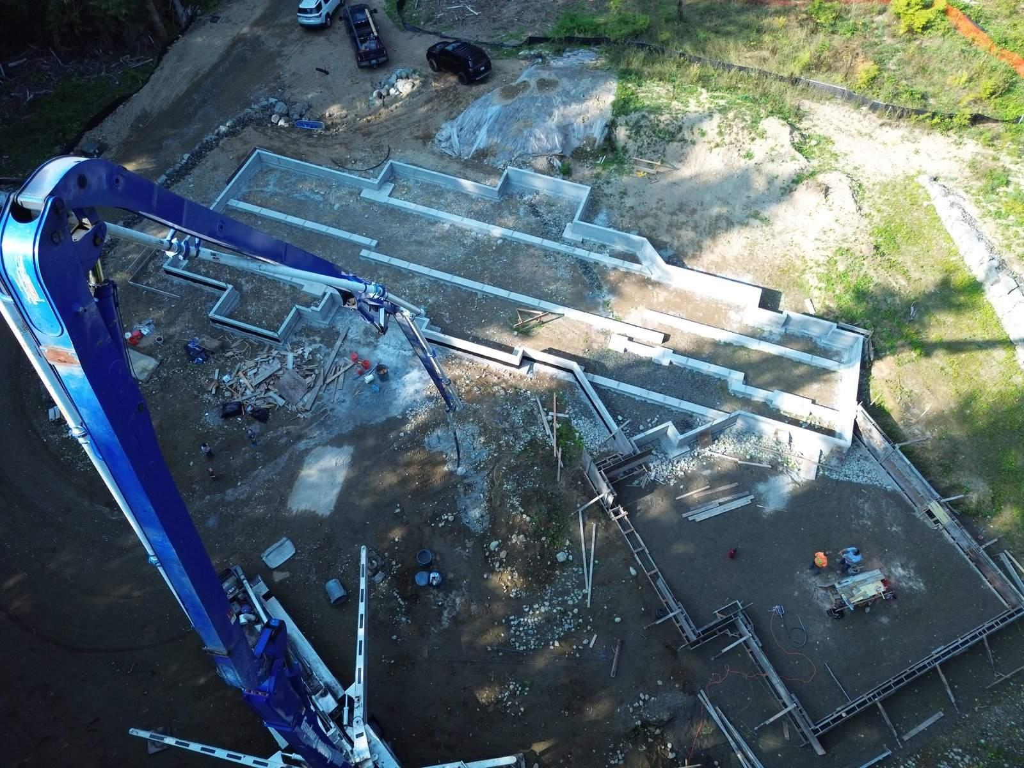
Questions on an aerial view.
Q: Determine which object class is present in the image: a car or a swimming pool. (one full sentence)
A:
Looking from above, you can make out a car.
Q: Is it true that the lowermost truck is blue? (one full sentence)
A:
Yes, the lowermost truck is indeed blue.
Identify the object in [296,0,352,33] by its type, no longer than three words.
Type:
car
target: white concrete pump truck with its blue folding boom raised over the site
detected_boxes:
[0,151,522,768]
